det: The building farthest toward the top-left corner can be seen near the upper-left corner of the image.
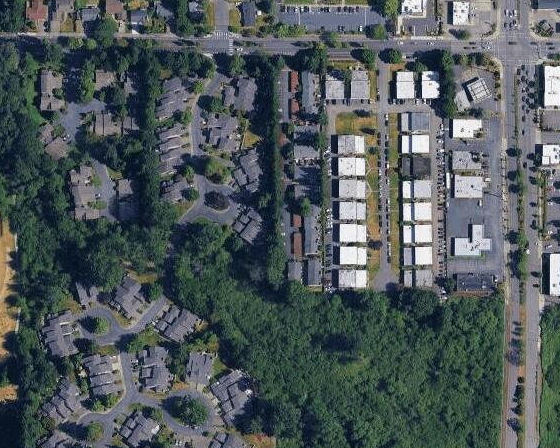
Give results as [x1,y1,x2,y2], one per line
[26,0,48,20]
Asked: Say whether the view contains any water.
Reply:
No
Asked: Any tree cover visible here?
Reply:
Yes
